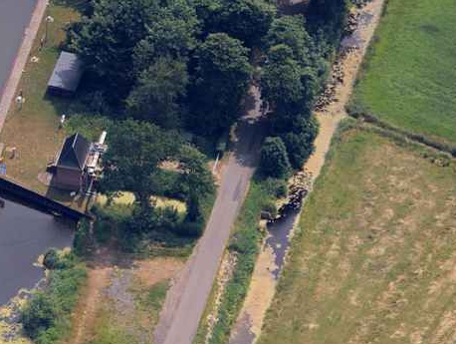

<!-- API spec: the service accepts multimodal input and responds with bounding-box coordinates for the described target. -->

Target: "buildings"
[49,53,82,103]
[45,130,92,184]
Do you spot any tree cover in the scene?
Yes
